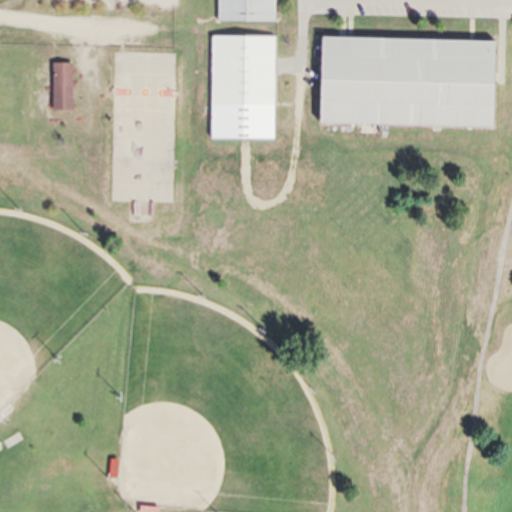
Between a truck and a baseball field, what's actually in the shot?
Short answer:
baseball field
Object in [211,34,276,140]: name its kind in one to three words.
barn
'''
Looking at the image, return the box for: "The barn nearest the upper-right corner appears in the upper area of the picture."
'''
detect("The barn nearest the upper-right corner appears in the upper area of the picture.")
[321,36,496,128]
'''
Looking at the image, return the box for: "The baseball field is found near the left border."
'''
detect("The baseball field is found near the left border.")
[0,208,134,414]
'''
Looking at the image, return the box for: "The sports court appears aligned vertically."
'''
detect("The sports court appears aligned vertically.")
[112,52,176,222]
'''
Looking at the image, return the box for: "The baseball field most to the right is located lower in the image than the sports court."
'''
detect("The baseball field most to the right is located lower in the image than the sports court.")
[116,286,336,512]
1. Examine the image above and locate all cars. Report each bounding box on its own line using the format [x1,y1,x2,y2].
[404,2,412,14]
[357,2,365,14]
